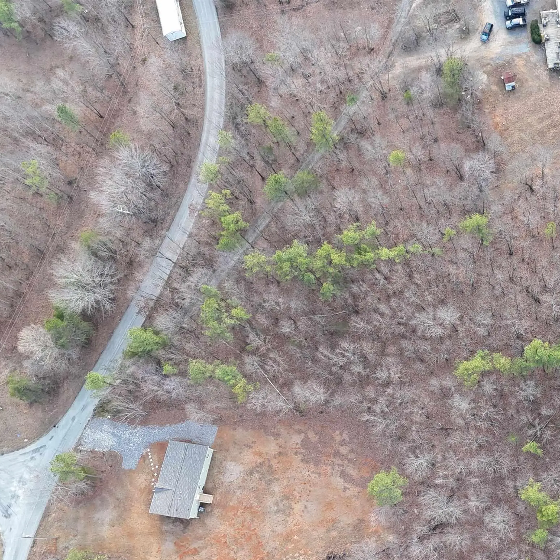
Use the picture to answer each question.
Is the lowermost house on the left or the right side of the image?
left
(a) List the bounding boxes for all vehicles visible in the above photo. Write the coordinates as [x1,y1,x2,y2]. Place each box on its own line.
[508,0,531,9]
[481,23,493,42]
[506,18,527,30]
[505,8,525,20]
